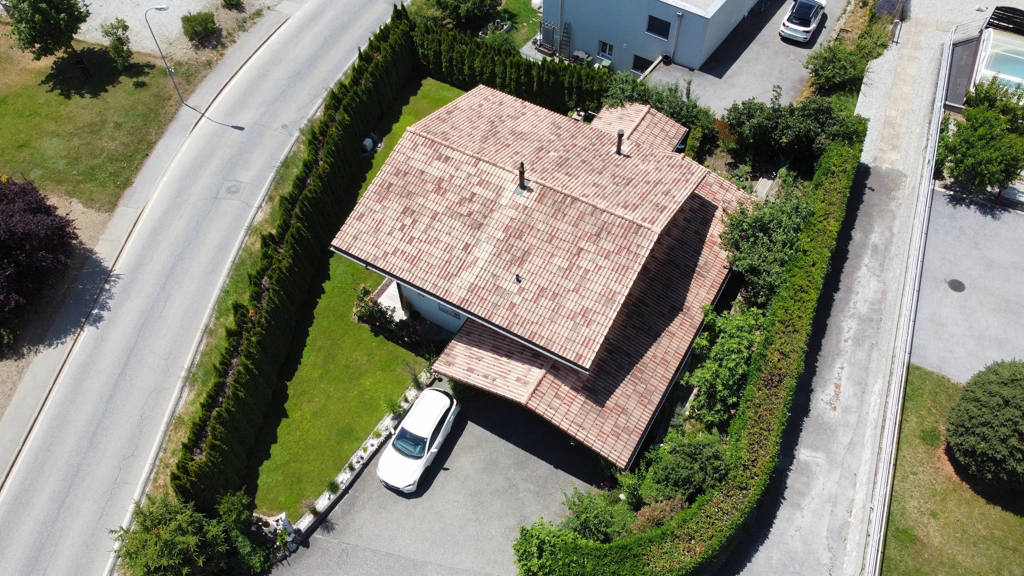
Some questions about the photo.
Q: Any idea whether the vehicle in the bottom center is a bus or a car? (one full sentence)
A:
The vehicle in the bottom center in the image is a car.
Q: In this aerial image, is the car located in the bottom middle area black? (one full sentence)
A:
No, the car located in the bottom middle area is white.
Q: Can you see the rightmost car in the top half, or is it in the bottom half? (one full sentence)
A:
The rightmost car sits in the top half of the picture.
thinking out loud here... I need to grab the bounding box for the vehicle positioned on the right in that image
[778,0,826,46]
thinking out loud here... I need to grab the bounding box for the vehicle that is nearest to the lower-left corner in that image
[376,387,463,494]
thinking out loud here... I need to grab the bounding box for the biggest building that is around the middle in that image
[329,84,763,472]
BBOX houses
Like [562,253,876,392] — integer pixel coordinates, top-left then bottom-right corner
[329,84,763,472]
[543,0,754,79]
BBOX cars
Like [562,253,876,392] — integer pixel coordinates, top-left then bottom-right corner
[376,387,463,494]
[778,0,826,46]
